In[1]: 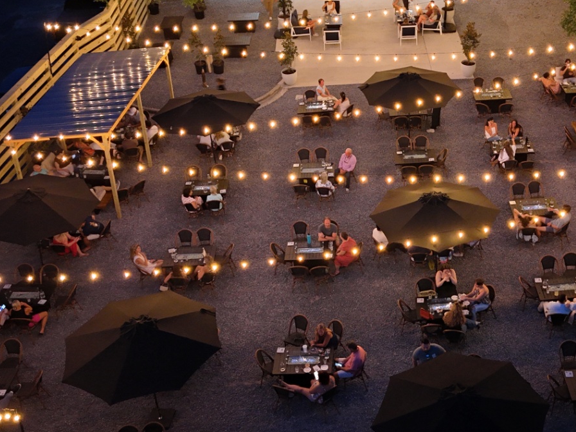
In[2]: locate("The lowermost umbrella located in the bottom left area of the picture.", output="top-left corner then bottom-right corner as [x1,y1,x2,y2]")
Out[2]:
[68,292,224,415]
